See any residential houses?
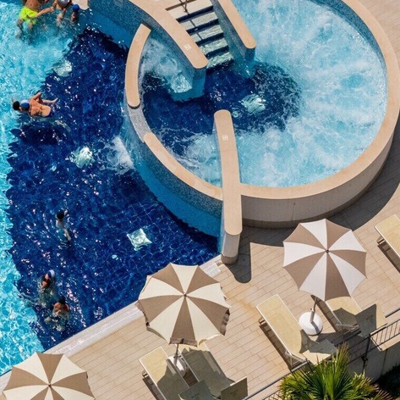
No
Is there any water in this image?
Yes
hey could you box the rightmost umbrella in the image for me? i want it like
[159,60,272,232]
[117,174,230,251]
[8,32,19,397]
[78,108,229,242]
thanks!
[281,223,369,334]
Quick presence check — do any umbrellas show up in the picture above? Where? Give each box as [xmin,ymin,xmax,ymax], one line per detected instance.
[0,354,98,400]
[281,223,369,334]
[135,268,231,367]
